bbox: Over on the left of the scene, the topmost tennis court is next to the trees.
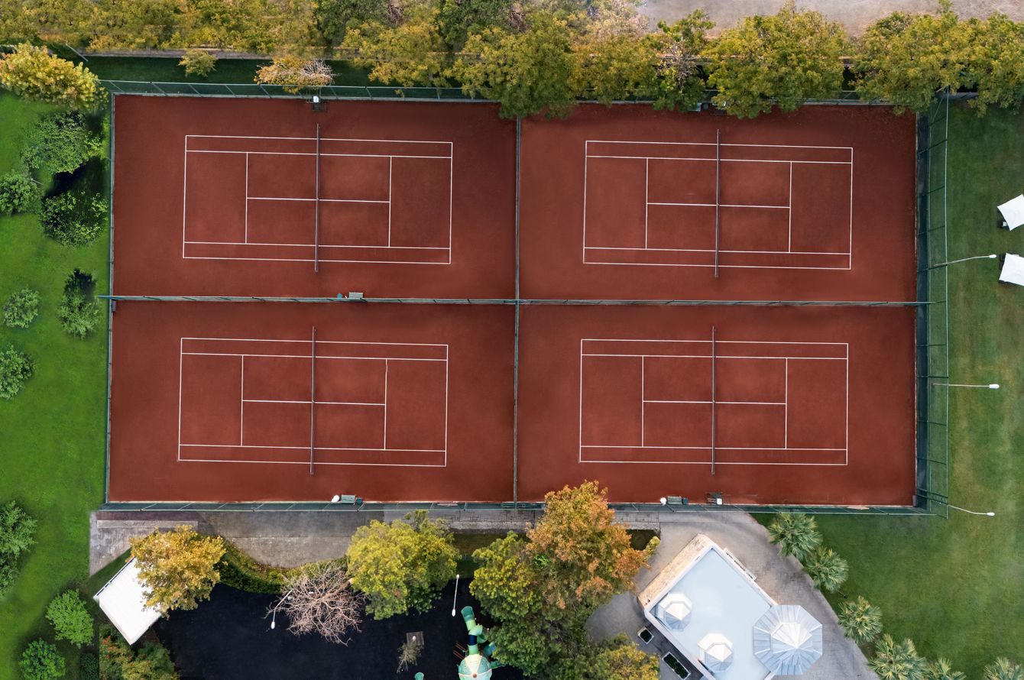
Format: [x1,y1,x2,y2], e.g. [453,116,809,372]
[111,95,517,303]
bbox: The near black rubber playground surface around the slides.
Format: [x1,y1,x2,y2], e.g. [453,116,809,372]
[157,576,541,680]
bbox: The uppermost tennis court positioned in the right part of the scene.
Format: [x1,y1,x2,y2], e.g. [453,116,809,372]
[518,101,916,302]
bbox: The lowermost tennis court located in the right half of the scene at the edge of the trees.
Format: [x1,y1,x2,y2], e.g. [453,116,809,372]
[517,303,915,506]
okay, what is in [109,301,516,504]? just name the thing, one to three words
tennis court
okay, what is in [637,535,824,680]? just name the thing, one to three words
building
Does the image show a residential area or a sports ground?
sports ground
